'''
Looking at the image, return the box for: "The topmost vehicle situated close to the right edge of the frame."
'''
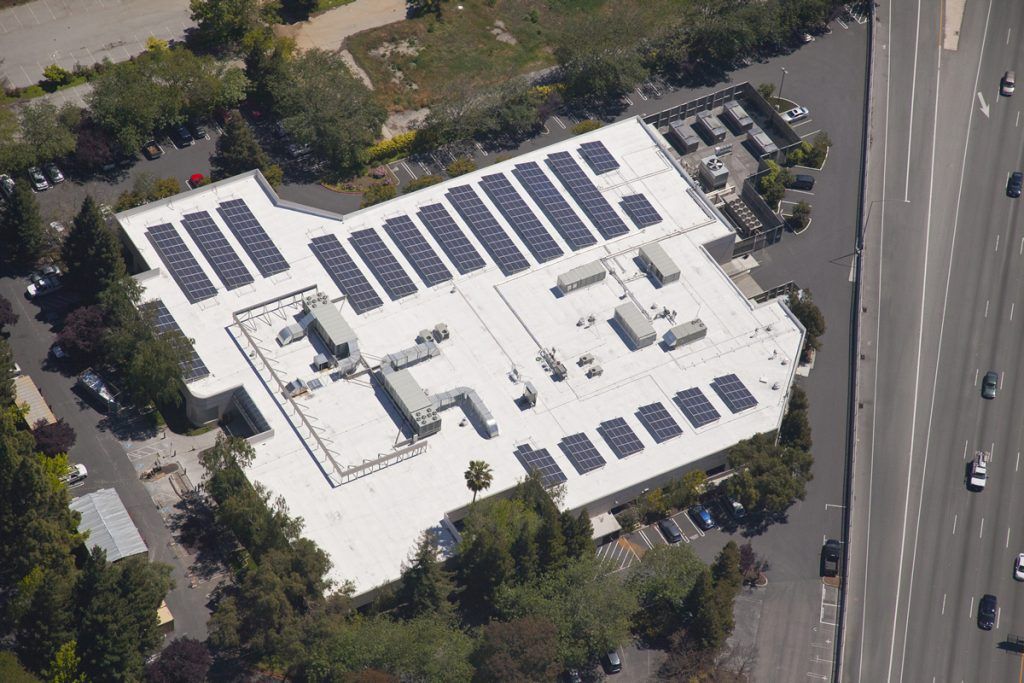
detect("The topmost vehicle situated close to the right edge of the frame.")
[1002,69,1017,96]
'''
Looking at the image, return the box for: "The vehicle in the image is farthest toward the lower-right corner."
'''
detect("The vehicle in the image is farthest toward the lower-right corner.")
[978,596,996,629]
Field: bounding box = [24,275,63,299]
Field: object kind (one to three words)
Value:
truck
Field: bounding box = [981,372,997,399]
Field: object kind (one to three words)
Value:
car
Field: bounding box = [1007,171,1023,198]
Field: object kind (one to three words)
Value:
car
